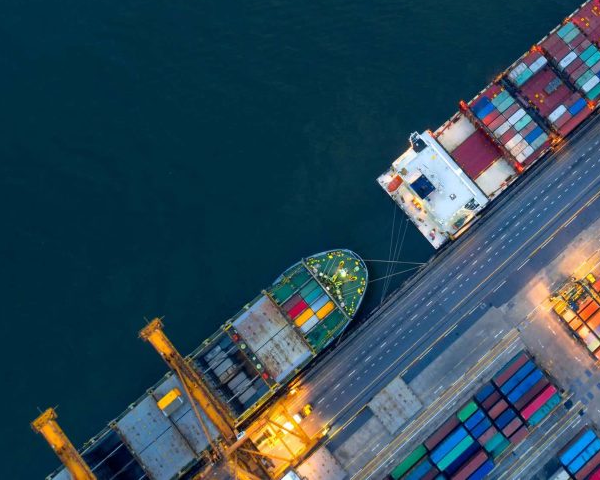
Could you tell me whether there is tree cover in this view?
No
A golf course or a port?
port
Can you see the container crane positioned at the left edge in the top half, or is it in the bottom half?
bottom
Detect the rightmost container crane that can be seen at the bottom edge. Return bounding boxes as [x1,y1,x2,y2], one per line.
[130,314,335,480]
